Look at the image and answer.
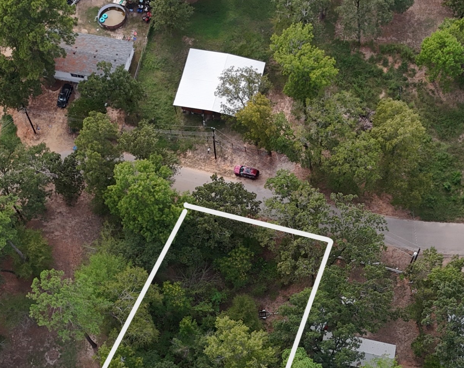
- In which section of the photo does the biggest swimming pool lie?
top left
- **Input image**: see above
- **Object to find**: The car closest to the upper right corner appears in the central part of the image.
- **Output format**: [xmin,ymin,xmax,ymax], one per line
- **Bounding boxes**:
[231,164,261,180]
